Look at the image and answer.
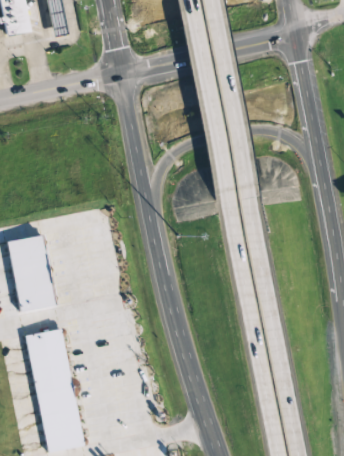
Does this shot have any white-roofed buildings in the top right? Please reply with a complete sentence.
No, looking in the top right, there is no white-roofed building.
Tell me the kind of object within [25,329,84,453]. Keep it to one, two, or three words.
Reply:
building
